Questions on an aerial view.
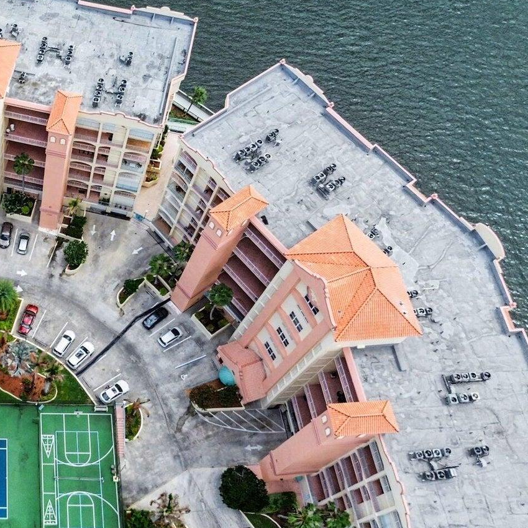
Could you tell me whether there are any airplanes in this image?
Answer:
No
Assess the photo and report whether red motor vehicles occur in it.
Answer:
Yes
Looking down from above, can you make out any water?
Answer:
Yes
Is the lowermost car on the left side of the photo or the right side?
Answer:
left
